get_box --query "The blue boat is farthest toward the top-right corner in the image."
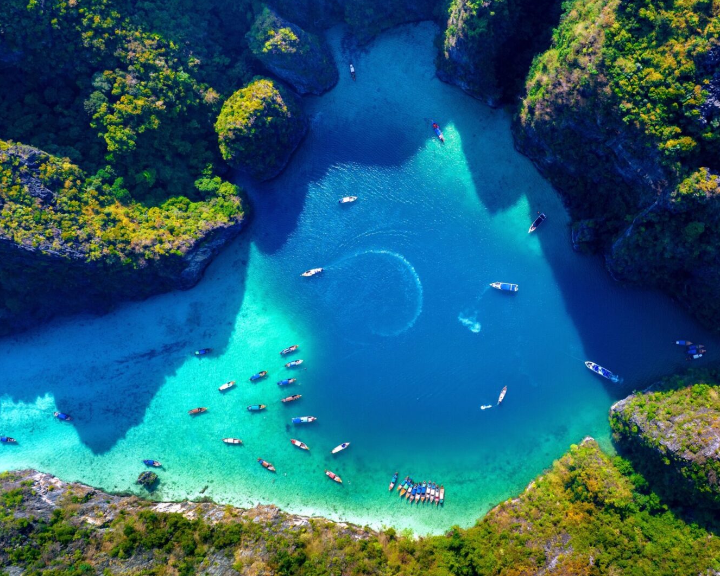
[529,212,547,233]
